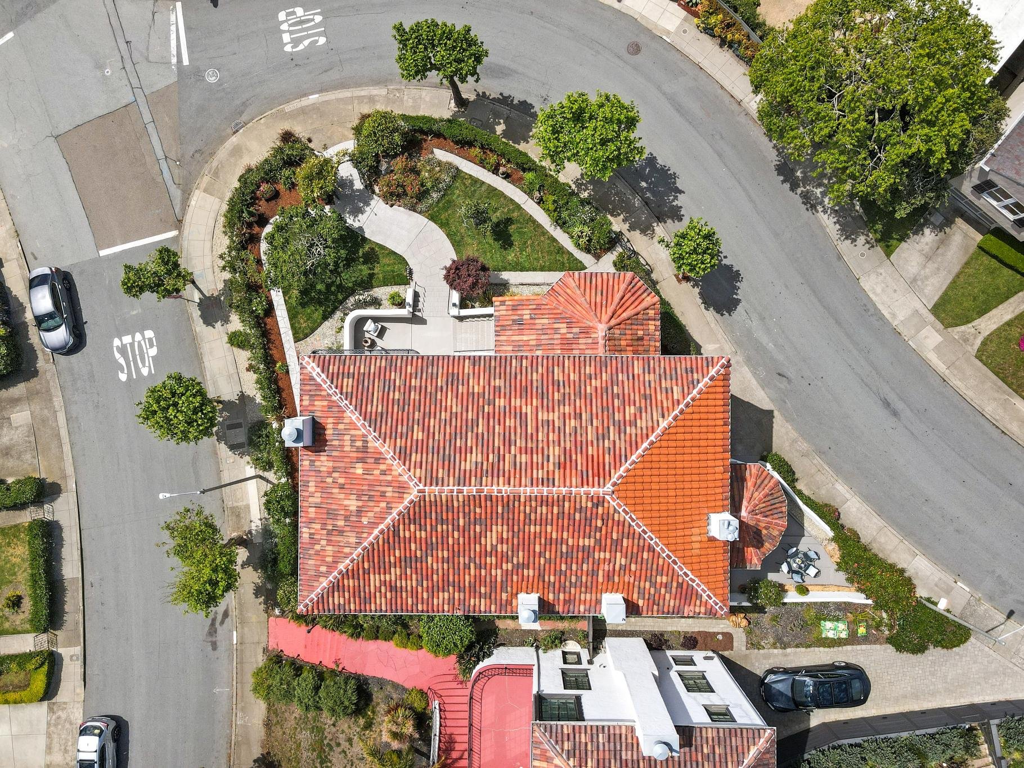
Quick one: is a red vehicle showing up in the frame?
No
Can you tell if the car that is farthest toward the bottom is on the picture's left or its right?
left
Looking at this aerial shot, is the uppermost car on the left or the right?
left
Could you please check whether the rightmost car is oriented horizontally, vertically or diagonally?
horizontally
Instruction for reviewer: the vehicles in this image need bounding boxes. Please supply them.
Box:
[757,657,870,715]
[27,263,82,355]
[71,713,123,768]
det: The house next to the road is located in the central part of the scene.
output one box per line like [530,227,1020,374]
[281,269,790,624]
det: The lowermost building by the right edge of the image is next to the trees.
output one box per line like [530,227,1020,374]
[949,96,1024,245]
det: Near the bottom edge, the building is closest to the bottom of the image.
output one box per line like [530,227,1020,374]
[529,638,780,768]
